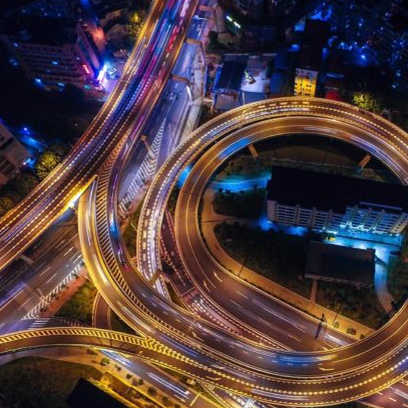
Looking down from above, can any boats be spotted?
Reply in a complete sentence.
No, I find no boat anywhere in the image.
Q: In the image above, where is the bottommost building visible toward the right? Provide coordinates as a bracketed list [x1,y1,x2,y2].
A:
[305,240,374,291]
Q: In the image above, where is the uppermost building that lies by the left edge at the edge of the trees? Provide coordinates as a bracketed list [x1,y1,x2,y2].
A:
[0,0,108,72]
